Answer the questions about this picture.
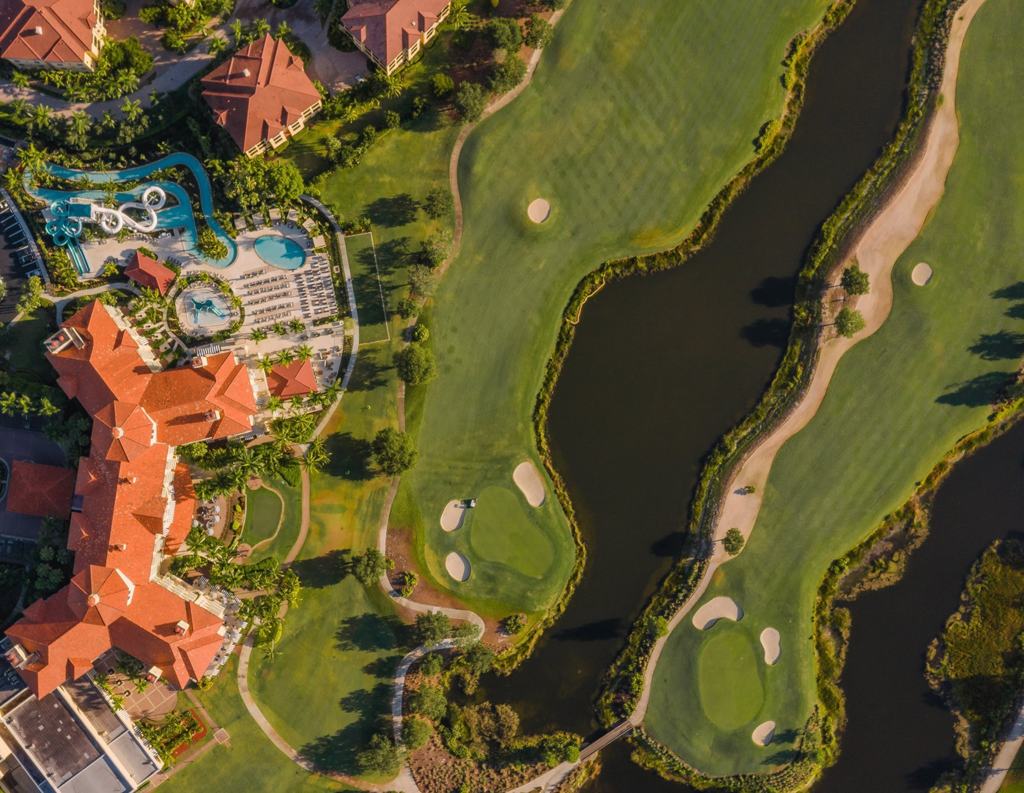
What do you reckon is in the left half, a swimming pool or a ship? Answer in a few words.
swimming pool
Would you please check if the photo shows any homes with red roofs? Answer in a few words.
Yes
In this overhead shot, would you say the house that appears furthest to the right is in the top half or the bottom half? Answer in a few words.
top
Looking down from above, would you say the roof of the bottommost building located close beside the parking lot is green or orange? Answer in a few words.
orange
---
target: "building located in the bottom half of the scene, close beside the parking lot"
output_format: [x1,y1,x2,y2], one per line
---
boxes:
[1,298,265,701]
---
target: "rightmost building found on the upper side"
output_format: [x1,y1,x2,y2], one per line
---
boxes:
[340,0,451,77]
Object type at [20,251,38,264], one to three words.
vehicle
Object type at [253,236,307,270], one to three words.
swimming pool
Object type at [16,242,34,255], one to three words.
vehicle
